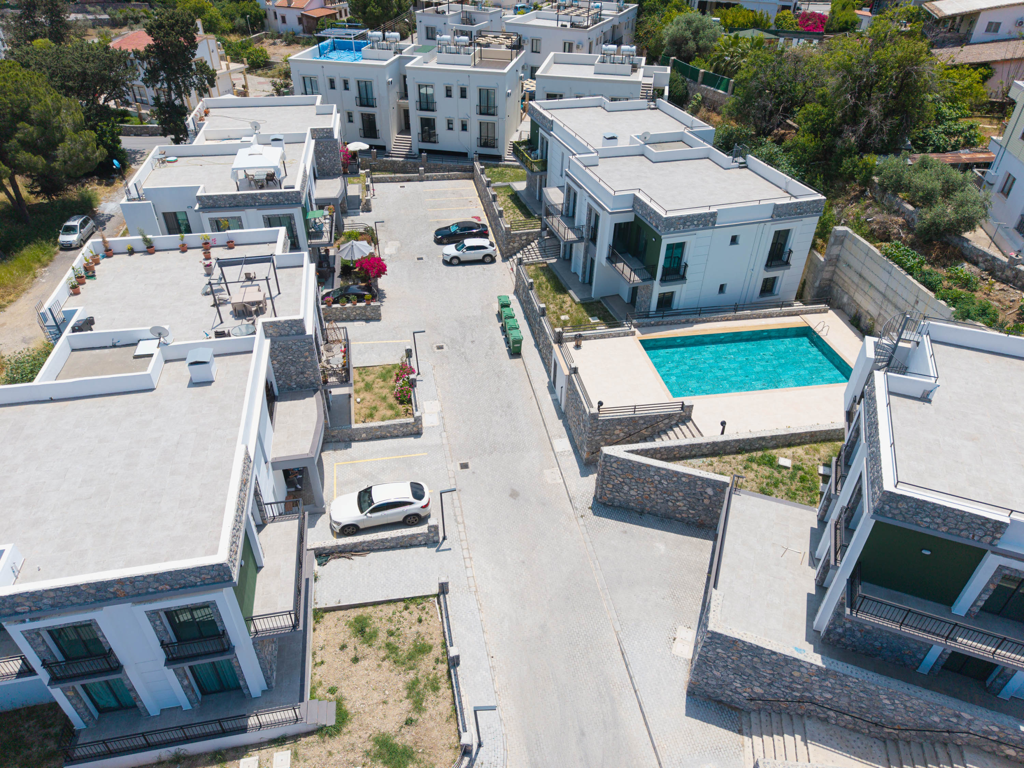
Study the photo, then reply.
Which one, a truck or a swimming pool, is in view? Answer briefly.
swimming pool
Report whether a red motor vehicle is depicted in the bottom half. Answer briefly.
No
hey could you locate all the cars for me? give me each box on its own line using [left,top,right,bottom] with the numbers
[328,480,432,533]
[443,238,498,265]
[321,285,381,308]
[54,214,91,245]
[433,221,489,244]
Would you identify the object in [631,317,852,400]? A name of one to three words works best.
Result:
swimming pool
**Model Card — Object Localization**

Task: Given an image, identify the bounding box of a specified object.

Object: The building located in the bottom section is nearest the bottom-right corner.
[817,322,1024,696]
